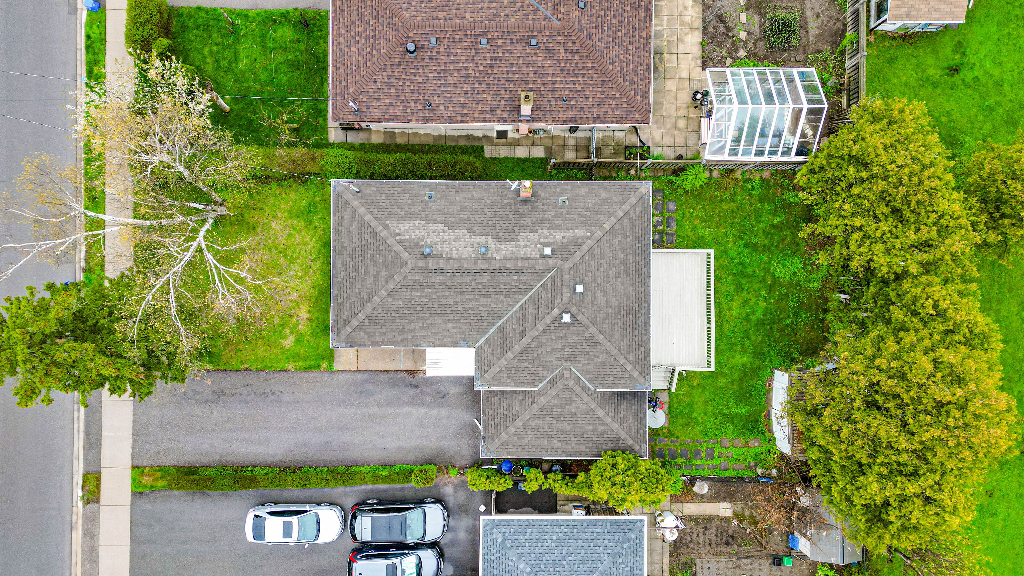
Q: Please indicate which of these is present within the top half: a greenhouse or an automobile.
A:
greenhouse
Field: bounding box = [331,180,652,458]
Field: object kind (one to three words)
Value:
house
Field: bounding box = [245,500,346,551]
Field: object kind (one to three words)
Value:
car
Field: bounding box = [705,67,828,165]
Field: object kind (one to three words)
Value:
greenhouse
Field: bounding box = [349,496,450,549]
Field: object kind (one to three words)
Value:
car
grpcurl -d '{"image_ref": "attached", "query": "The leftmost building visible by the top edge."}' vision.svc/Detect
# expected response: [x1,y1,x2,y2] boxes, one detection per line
[331,0,653,130]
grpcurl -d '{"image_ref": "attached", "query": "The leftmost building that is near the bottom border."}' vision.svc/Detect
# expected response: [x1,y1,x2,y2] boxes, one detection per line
[481,506,648,576]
